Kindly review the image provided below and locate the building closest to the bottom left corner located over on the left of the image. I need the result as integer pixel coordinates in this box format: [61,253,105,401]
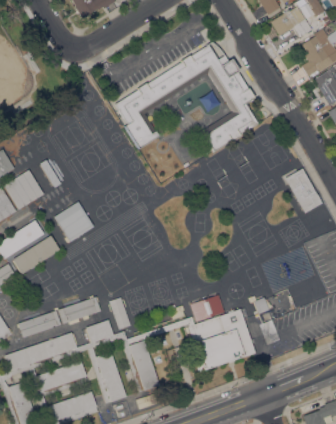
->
[9,382,32,424]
